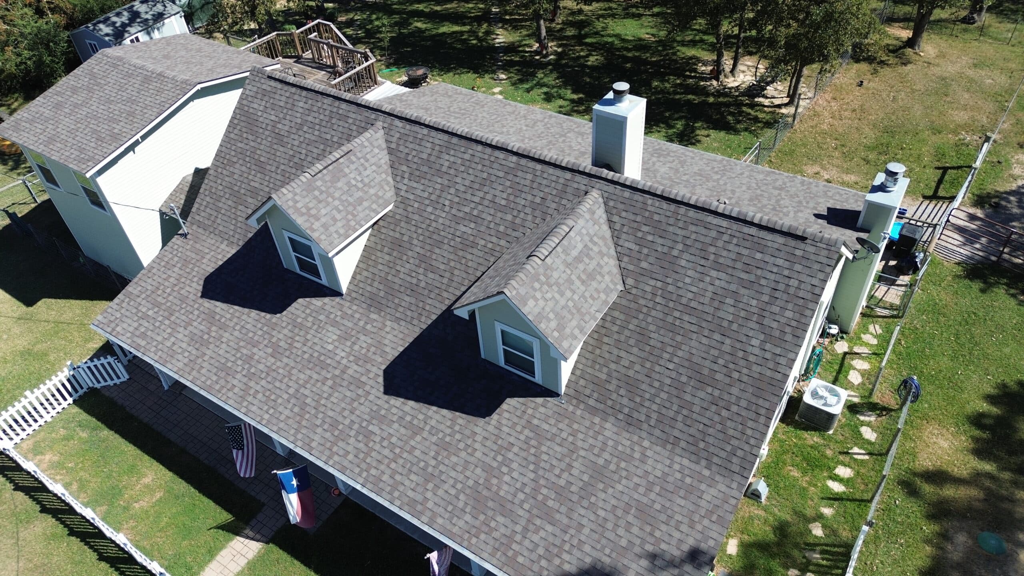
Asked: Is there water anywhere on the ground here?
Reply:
No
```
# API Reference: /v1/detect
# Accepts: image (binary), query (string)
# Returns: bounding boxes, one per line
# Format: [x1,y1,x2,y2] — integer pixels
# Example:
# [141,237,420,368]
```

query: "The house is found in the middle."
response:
[88,65,911,576]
